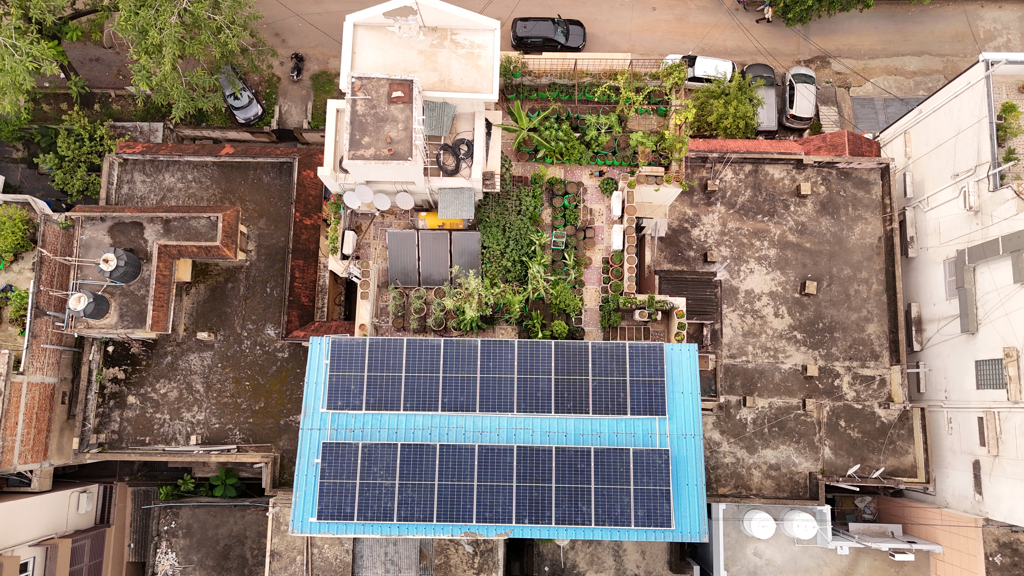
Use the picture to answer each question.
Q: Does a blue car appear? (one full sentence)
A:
No, there is no blue car in the image.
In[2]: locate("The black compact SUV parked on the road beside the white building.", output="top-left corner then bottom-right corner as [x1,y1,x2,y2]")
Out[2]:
[511,15,586,54]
